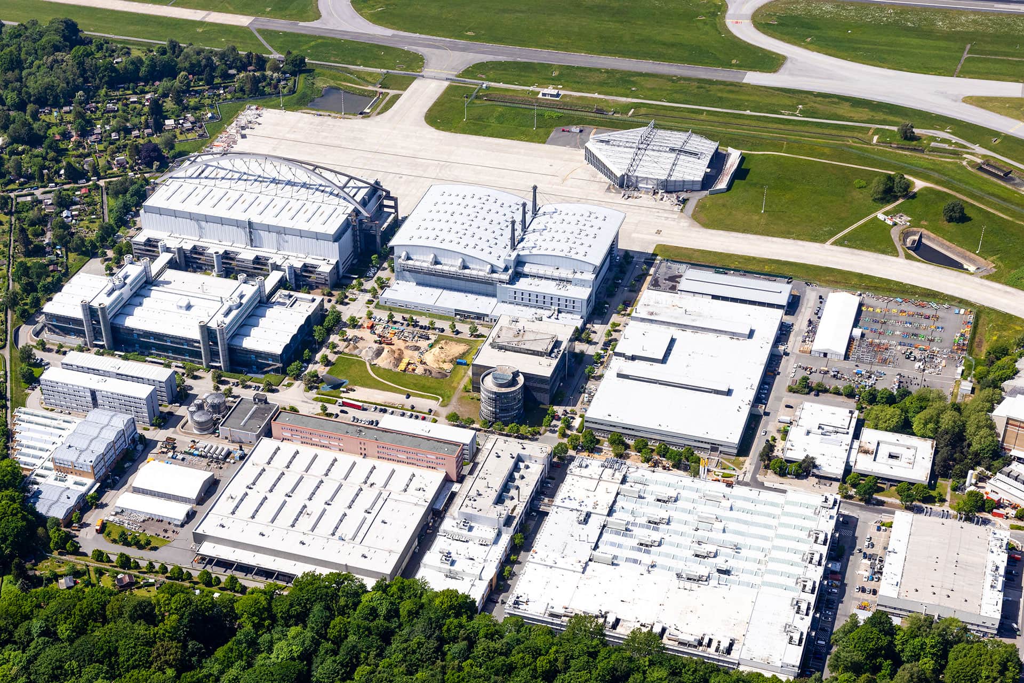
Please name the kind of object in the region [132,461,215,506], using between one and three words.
tent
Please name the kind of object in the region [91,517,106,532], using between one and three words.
vehicle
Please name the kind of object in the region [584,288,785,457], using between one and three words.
building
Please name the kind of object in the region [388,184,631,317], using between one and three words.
hangar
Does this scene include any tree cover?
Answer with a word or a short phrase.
Yes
